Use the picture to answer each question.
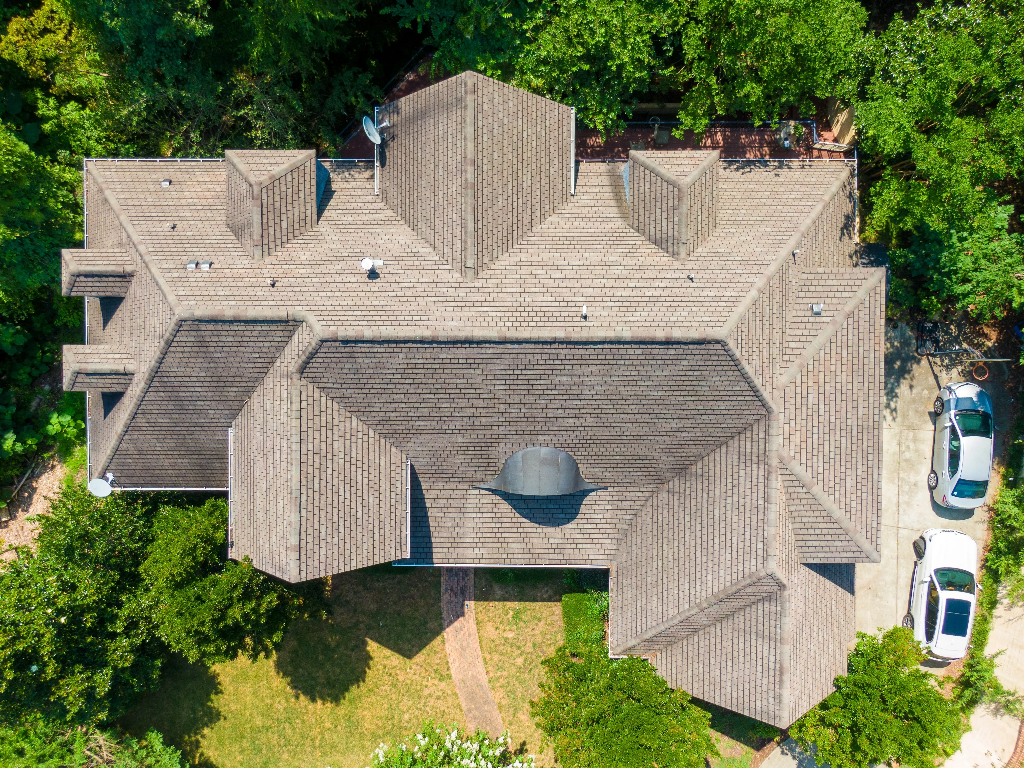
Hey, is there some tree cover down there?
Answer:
Yes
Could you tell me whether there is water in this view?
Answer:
No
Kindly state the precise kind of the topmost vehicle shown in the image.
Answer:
car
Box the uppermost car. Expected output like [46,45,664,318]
[928,380,1003,511]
